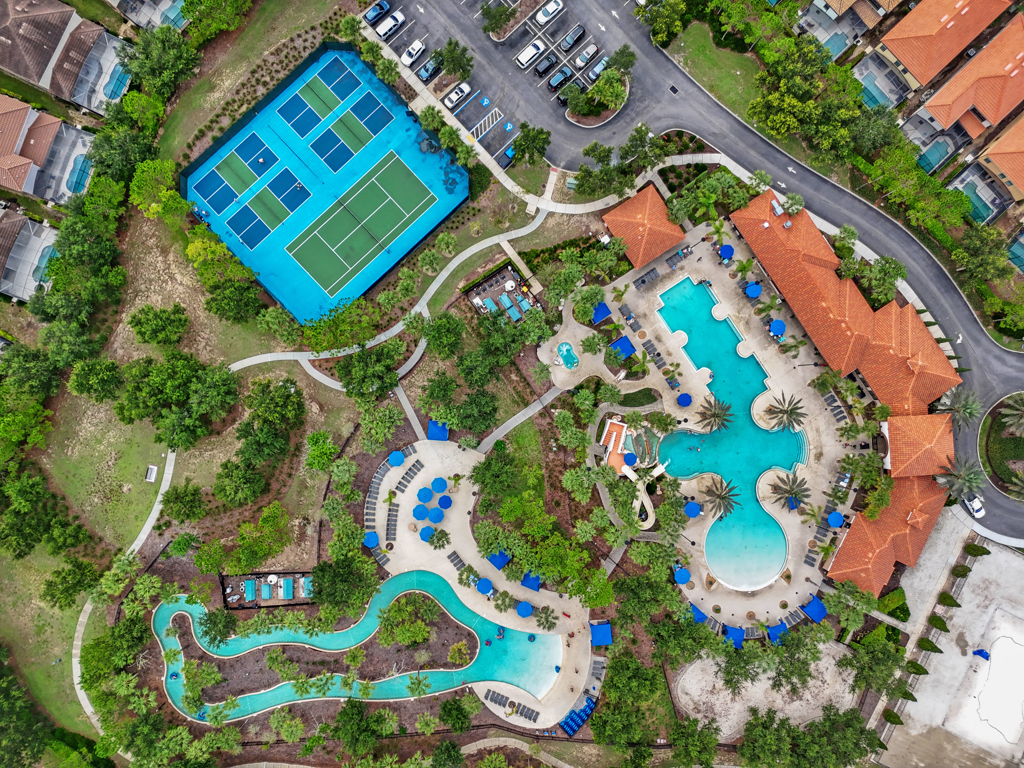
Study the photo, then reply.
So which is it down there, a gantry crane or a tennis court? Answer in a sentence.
The image shows a tennis court.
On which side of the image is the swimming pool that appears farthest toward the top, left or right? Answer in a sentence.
The swimming pool that appears farthest toward the top is on the left side of the image.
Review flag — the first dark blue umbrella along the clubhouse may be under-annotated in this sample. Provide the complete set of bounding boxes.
[718,244,735,260]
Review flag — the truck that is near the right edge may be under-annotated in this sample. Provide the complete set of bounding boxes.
[958,488,987,522]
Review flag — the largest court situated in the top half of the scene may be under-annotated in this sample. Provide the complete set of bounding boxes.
[187,51,467,323]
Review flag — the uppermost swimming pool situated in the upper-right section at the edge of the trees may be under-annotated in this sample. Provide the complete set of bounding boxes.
[820,30,851,66]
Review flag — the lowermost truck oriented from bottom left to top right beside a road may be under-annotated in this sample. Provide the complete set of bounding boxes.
[489,145,519,175]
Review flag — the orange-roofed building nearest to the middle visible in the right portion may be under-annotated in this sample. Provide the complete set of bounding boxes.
[602,183,687,270]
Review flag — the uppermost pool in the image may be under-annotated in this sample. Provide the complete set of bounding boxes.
[159,3,184,29]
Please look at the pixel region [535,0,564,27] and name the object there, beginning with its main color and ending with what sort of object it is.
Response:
white car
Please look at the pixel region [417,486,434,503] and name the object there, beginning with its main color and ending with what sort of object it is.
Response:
blue umbrella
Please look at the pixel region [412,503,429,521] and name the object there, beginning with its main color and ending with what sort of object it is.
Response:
blue umbrella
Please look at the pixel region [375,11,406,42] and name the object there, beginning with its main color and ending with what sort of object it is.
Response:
white car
